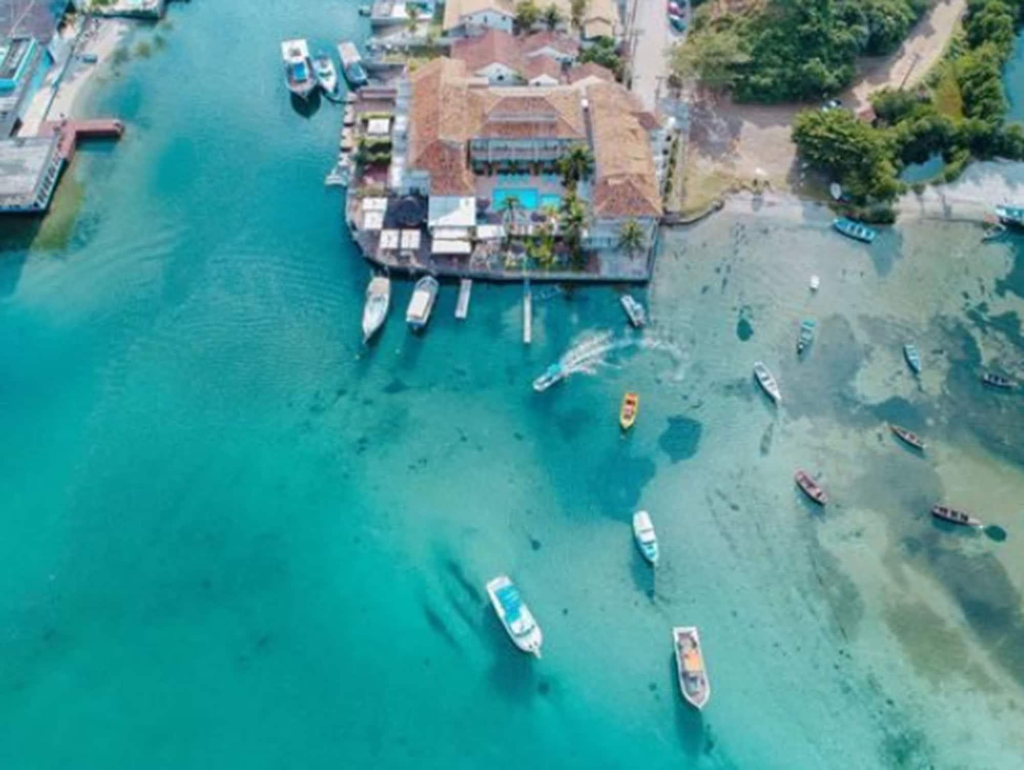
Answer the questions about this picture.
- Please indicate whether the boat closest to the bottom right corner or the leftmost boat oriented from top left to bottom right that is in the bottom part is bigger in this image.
the leftmost boat oriented from top left to bottom right that is in the bottom part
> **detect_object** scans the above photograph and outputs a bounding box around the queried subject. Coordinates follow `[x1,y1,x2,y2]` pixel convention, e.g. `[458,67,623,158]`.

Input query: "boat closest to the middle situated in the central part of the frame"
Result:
[534,360,571,390]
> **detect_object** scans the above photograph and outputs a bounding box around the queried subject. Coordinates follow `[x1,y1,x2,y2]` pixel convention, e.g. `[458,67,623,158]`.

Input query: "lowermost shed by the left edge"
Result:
[0,135,74,225]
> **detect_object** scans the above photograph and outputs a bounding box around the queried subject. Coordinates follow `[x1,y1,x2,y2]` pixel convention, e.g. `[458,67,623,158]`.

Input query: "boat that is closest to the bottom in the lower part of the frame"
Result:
[672,627,710,708]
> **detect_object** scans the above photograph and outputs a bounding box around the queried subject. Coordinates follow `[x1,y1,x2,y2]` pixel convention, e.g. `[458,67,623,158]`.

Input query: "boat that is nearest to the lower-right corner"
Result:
[929,502,989,531]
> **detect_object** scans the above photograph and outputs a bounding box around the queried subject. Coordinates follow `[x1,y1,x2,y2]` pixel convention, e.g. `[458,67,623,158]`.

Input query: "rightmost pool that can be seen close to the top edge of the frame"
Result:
[407,2,432,20]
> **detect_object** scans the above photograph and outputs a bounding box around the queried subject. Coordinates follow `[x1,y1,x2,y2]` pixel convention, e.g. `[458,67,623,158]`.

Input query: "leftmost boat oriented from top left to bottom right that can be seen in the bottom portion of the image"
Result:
[483,579,541,660]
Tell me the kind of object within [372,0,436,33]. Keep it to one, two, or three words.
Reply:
house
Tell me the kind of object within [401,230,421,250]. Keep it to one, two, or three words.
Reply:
umbrella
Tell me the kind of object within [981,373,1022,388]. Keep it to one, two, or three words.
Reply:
boat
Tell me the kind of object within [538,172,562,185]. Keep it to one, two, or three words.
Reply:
swimming pool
